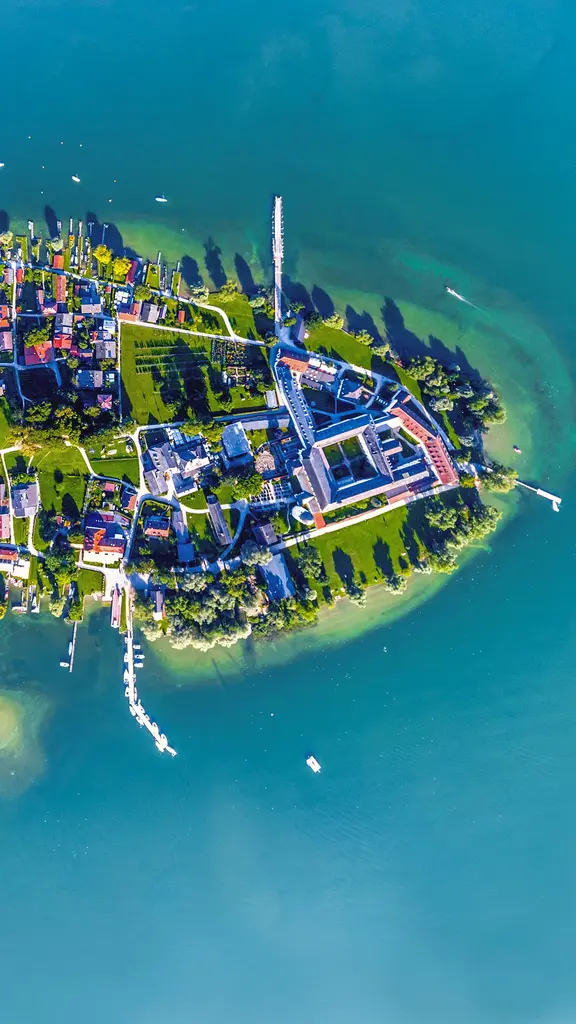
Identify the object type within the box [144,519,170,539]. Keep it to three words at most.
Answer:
house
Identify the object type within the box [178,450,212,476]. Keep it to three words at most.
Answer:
house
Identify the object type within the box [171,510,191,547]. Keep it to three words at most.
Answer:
barn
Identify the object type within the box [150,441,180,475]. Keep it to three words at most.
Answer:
building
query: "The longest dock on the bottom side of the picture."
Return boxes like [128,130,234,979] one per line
[125,628,165,747]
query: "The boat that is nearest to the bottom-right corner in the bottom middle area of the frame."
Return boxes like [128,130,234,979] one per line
[308,756,322,774]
